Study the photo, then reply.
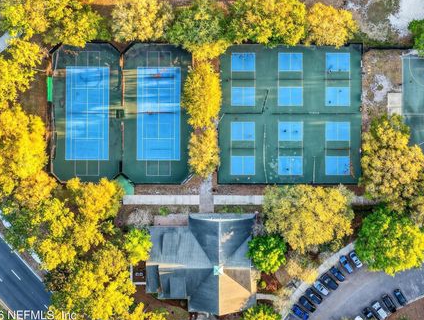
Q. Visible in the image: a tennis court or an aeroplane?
tennis court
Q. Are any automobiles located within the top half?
No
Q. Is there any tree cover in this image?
Yes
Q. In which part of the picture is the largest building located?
bottom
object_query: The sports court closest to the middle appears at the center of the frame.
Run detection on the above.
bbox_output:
[231,122,255,176]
